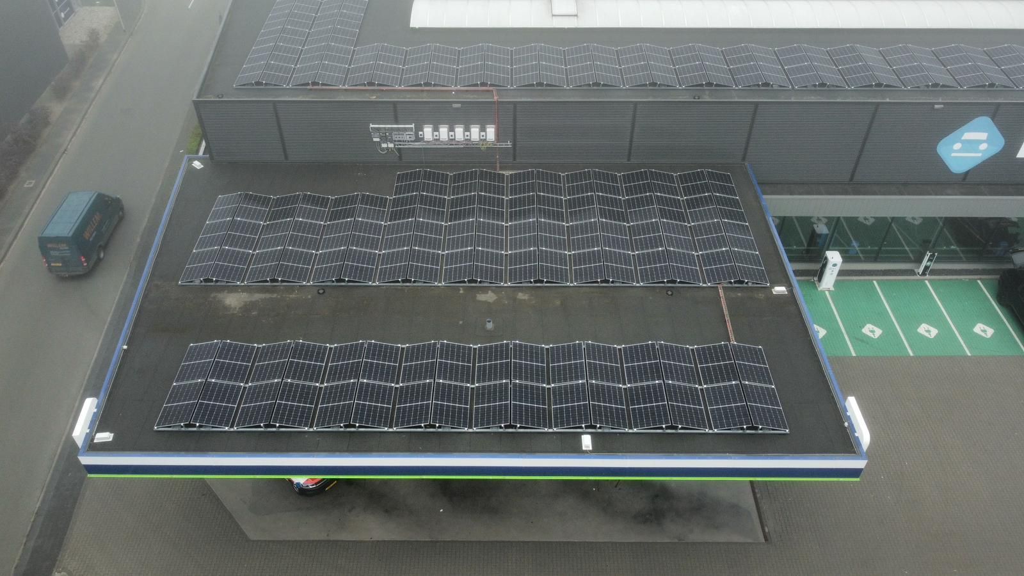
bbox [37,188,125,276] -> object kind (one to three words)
van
